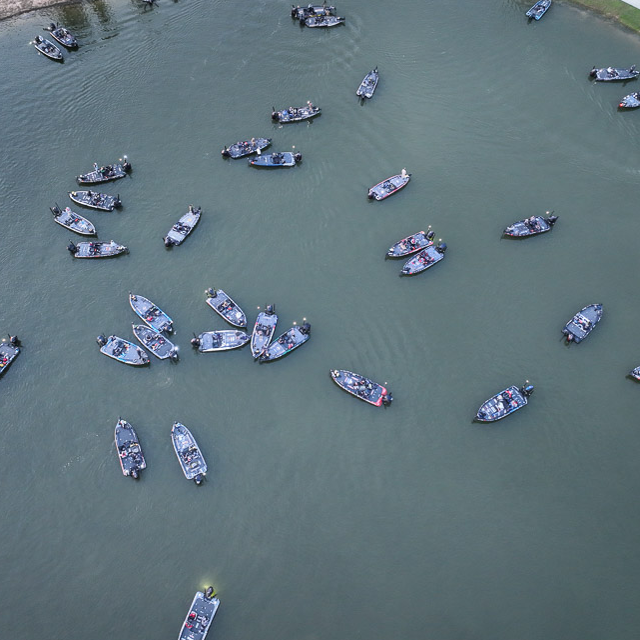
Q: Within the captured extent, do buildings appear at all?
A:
No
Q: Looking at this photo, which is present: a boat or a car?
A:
boat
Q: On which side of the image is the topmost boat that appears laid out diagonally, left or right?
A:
right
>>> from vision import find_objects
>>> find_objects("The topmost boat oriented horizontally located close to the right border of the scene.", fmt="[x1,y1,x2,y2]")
[594,63,640,82]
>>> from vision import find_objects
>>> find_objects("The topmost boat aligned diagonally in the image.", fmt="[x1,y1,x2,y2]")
[527,0,552,21]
